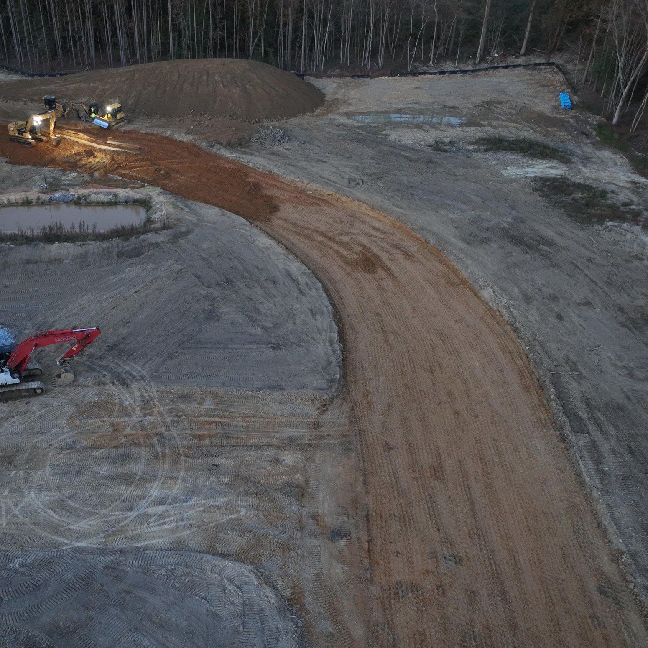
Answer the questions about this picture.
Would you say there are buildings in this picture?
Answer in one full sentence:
No, there is no building in the image.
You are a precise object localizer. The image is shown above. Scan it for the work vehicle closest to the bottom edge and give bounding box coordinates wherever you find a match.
[0,325,102,399]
